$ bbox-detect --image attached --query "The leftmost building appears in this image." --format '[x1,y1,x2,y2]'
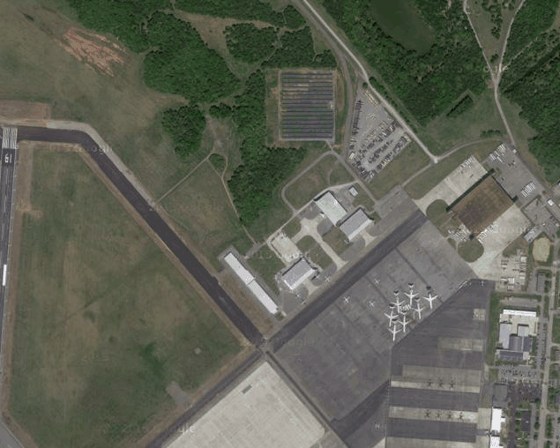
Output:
[224,252,256,286]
